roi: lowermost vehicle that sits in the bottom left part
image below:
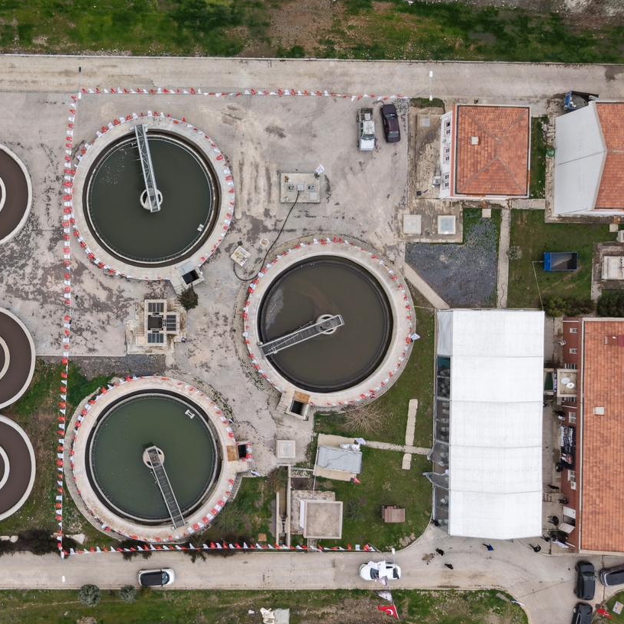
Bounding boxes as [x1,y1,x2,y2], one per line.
[138,569,175,589]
